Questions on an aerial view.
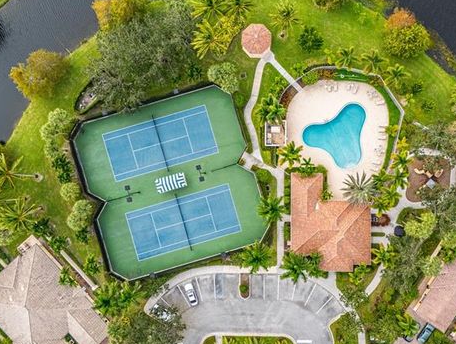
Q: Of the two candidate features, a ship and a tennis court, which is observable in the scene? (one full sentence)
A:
Of the two, only a tennis court appears.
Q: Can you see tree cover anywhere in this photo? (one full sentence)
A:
Yes, there is tree cover in the image.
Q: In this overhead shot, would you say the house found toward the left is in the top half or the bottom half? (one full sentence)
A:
It is in the bottom half that the house found toward the left appears.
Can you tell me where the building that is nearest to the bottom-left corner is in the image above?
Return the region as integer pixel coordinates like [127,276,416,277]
[0,243,110,344]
